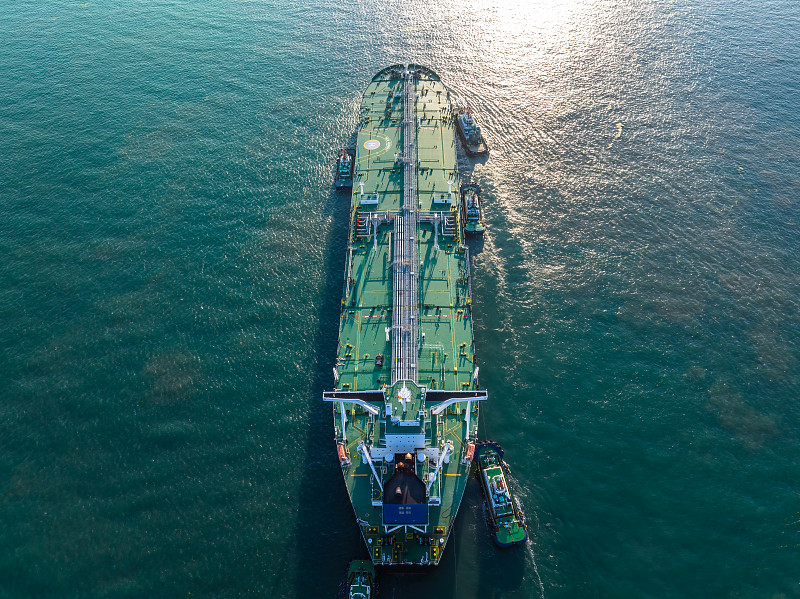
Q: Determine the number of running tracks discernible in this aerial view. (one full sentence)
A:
No running tracks are visible.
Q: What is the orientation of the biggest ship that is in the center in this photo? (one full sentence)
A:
In this picture, the biggest ship that is in the center is oriented from top to bottom.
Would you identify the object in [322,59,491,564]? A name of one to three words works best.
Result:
ship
